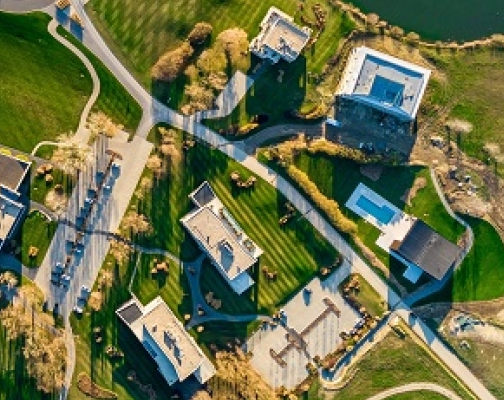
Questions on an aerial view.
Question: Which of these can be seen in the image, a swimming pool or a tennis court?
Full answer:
Visible in the photo is a swimming pool.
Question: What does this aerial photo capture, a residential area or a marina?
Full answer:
This looks like a residential area.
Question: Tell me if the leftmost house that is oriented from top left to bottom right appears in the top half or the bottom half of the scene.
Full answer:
The leftmost house that is oriented from top left to bottom right is in the bottom half of the image.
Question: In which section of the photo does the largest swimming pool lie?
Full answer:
The largest swimming pool appears toward the right of the photo.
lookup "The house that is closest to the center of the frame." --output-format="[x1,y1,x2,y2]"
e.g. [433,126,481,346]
[178,181,264,295]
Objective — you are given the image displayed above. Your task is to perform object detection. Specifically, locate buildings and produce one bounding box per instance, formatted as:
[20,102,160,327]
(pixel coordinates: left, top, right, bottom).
[178,181,264,295]
[0,151,32,250]
[389,220,463,283]
[340,47,430,124]
[115,292,215,386]
[248,7,313,65]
